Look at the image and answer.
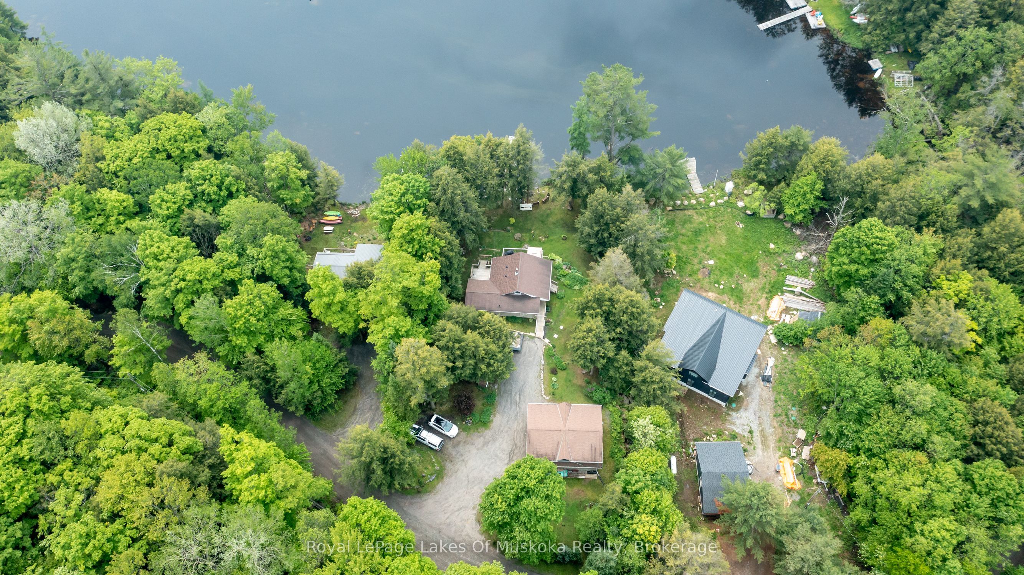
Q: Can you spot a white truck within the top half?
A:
No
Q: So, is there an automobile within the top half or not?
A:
No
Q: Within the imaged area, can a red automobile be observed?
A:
No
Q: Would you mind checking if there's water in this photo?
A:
Yes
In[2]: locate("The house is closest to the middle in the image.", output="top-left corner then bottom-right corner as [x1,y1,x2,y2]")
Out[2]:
[467,248,558,324]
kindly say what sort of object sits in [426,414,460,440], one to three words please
car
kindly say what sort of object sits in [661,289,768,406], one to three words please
house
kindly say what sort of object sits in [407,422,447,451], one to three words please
truck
